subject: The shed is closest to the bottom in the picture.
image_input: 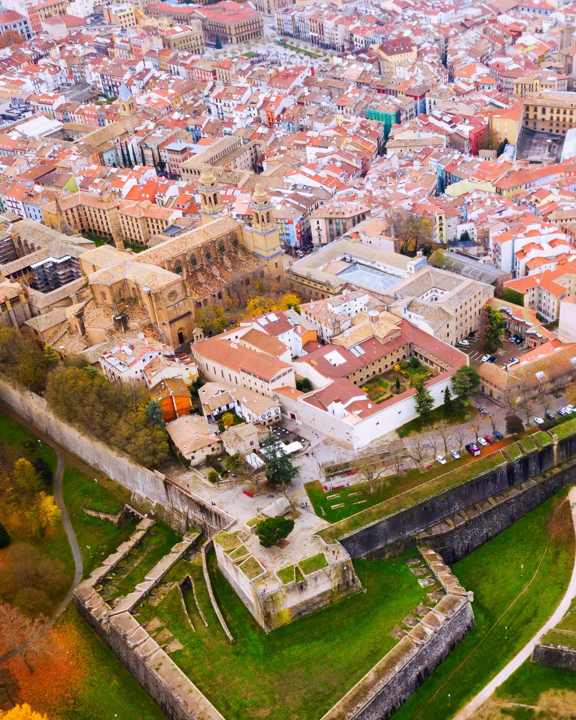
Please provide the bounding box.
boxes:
[260,498,292,519]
